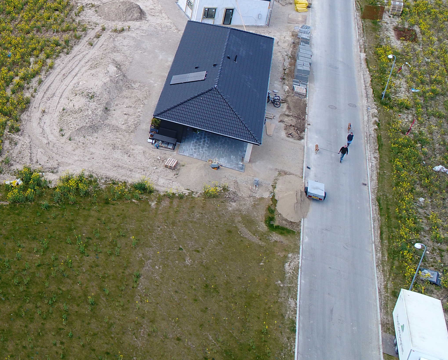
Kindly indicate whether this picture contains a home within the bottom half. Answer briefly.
No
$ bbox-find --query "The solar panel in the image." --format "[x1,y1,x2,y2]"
[185,68,204,86]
